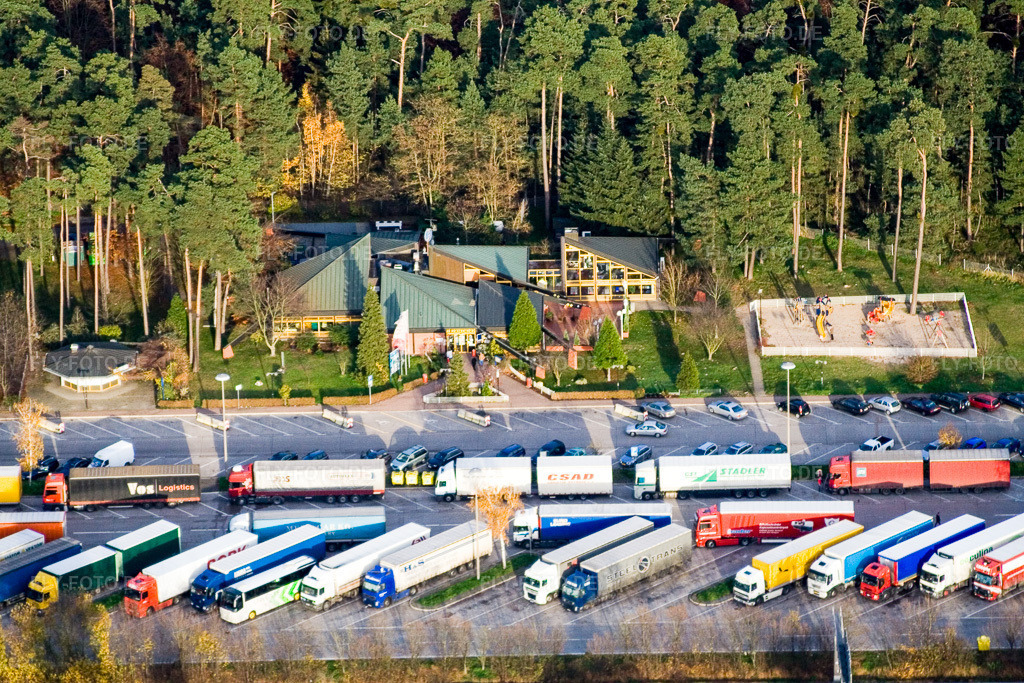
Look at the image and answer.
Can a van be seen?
Yes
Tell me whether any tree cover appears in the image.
Yes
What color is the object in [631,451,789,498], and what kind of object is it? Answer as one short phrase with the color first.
white truck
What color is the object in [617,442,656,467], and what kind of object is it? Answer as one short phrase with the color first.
blue car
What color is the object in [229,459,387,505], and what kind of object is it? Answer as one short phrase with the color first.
white truck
